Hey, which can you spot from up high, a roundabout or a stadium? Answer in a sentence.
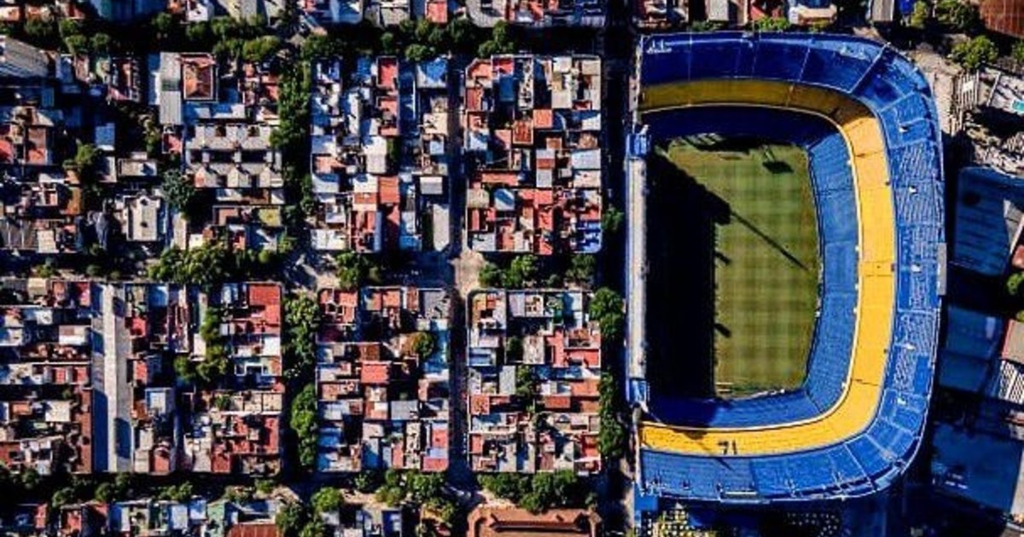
I can see a stadium in this picture.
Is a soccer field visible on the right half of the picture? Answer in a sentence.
Yes, on the right half of the picture there is a soccer field.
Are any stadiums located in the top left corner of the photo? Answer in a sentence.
No, no stadium is visible in the top left corner of the photo.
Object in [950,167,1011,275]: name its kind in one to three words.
building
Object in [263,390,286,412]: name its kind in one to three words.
house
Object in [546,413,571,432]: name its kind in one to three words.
house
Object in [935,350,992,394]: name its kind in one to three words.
building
